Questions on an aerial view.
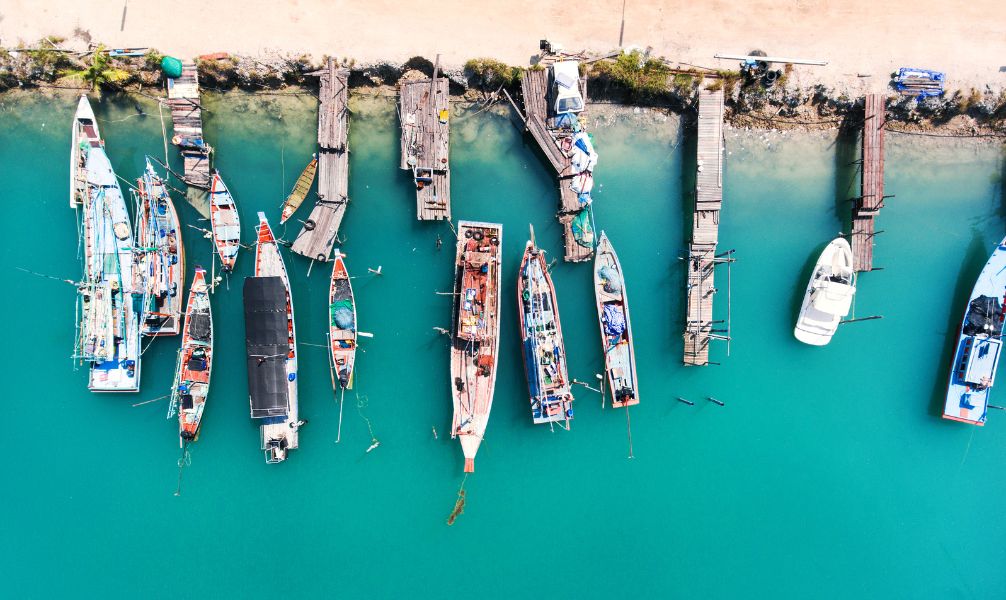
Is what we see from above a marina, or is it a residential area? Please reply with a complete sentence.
This looks like a marina.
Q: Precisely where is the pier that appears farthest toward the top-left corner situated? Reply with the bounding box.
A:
[155,61,218,190]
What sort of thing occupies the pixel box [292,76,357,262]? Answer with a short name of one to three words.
pier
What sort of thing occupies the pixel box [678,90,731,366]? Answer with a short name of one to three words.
pier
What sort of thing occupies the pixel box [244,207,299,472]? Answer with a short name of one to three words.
boat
